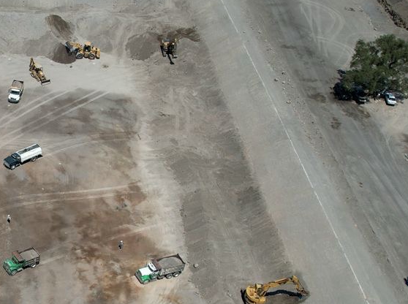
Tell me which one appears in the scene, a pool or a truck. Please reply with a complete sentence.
This aerial view contains a truck.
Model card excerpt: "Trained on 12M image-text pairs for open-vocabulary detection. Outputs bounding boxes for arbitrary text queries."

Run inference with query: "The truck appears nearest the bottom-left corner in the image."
[1,242,42,274]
